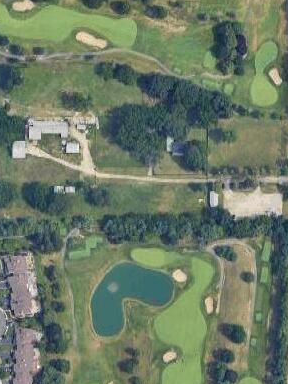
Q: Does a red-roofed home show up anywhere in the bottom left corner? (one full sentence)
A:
No, no red-roofed home can be made out in the bottom left corner.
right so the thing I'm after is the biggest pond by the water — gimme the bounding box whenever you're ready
[90,261,174,336]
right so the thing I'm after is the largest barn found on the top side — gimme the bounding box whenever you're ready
[28,119,68,140]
